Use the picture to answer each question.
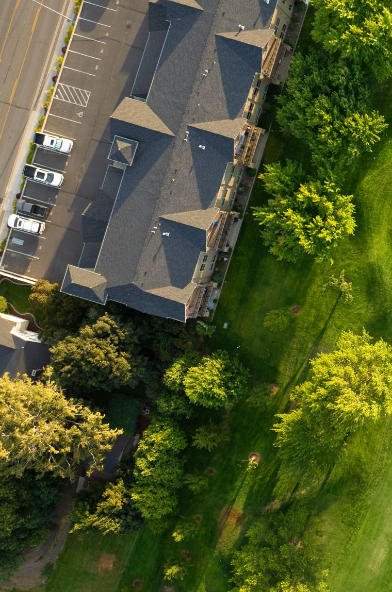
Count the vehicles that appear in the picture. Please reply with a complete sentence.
The count of vehicles comes to 4.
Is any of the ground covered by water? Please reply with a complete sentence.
No, the scene doesn't show any water.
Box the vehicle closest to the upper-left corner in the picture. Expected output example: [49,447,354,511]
[34,132,76,154]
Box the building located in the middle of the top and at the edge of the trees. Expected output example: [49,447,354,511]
[64,0,311,323]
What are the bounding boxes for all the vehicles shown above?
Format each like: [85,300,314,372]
[15,200,54,220]
[9,215,48,235]
[34,132,76,154]
[24,165,66,187]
